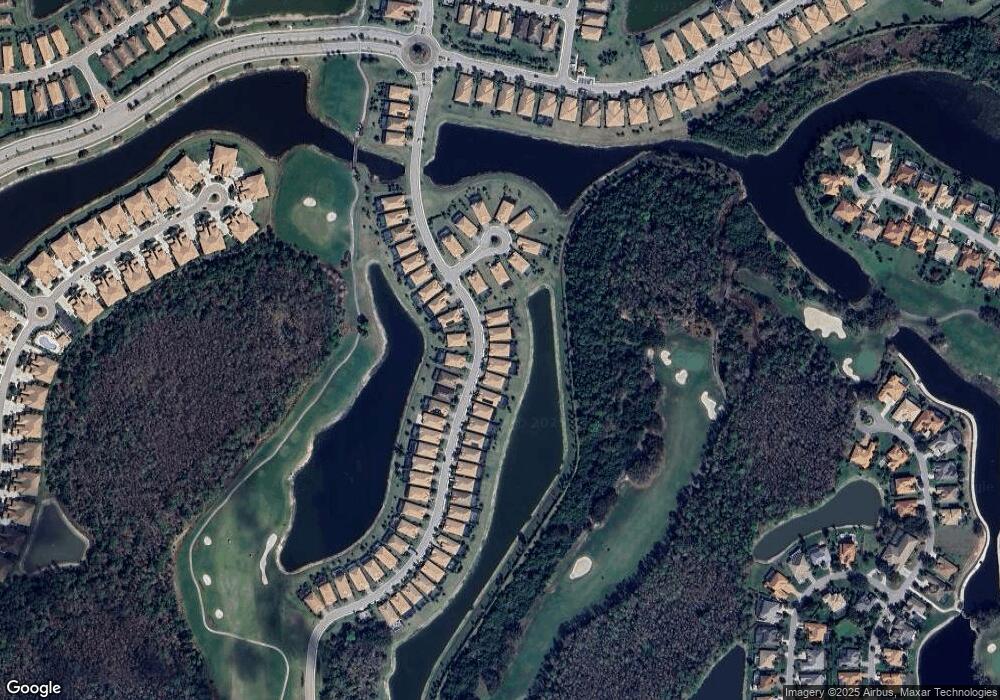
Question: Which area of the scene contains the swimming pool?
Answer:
left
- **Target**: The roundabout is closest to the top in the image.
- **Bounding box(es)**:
[400,32,439,72]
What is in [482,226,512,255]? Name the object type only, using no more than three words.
roundabout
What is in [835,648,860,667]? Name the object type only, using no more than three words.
house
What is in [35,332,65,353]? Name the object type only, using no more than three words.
swimming pool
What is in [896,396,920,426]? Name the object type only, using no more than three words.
house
